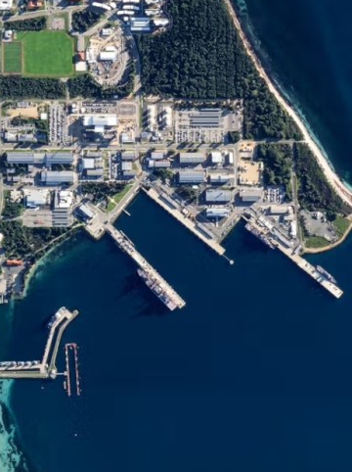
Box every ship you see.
[140,269,179,312]
[48,315,58,327]
[245,224,276,249]
[316,265,337,284]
